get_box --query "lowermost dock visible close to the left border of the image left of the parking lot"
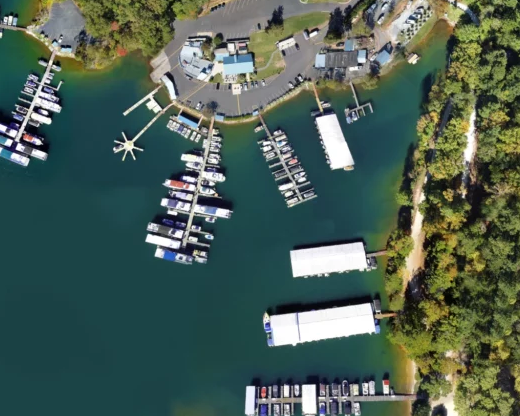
[11,52,62,142]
